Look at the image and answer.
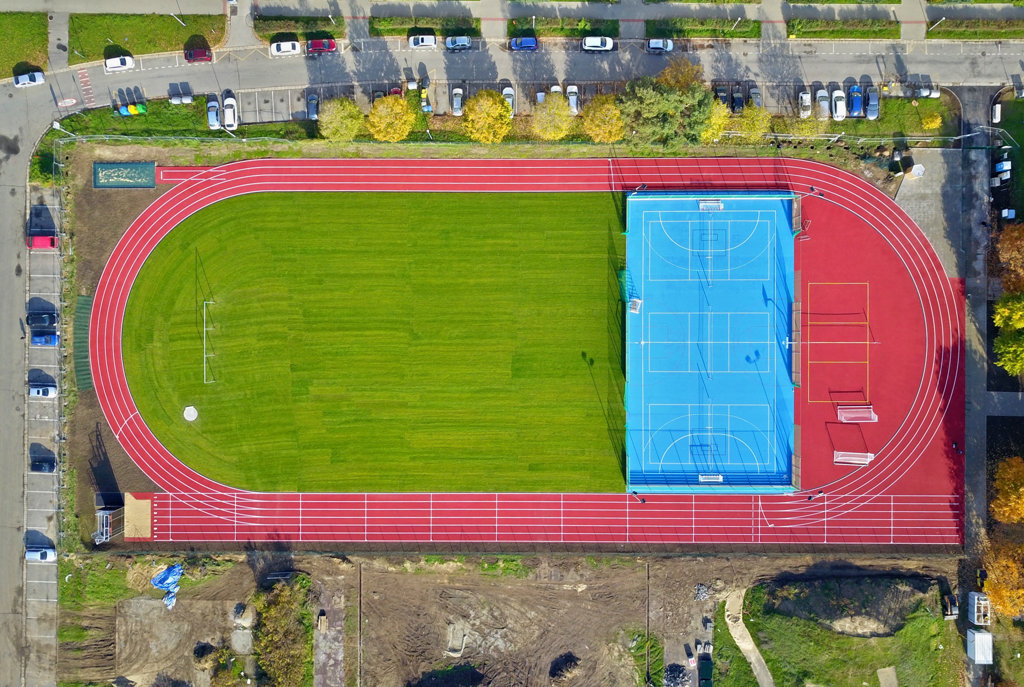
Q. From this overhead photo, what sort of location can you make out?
sports ground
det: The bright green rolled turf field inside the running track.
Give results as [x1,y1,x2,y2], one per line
[123,193,627,494]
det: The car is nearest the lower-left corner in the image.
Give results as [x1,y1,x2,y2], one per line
[24,547,56,564]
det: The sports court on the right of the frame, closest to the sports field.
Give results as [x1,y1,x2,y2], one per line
[626,190,795,494]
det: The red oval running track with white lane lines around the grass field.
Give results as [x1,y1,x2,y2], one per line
[88,157,965,546]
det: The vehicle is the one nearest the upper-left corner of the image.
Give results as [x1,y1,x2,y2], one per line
[12,70,46,89]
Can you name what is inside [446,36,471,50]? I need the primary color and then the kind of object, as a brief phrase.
blue car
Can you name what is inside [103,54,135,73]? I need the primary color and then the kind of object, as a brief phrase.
white car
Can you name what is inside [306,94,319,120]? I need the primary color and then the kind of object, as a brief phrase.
blue vehicle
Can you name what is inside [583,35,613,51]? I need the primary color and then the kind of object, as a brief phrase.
white car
